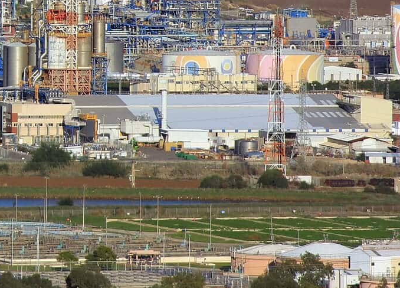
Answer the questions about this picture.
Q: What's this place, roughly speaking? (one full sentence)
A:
It's an industrial area.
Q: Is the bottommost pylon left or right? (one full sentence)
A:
It is on the right.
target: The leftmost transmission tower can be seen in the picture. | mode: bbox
[292,84,314,158]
